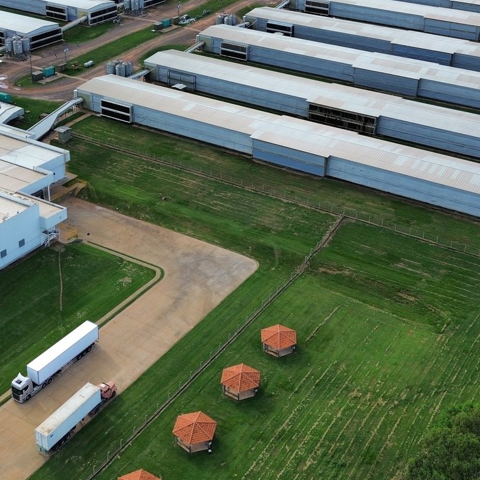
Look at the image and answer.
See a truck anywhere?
Yes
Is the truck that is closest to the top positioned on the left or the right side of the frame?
left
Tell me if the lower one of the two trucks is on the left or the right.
left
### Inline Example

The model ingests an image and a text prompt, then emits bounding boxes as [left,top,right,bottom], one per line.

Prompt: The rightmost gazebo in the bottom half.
[262,324,296,358]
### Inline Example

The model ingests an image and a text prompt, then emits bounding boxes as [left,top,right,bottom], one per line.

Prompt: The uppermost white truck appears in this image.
[9,319,98,403]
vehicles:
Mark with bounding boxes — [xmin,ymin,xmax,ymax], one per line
[9,319,98,403]
[34,374,120,451]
